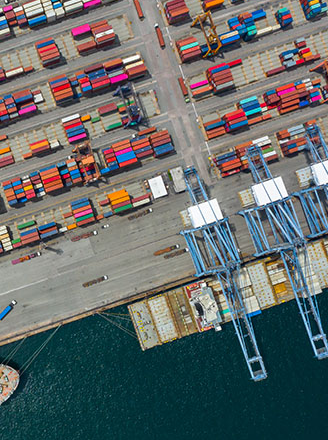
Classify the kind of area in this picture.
port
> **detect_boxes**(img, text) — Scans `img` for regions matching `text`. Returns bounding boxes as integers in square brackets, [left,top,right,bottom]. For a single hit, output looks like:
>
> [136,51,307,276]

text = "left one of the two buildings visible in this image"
[148,174,169,198]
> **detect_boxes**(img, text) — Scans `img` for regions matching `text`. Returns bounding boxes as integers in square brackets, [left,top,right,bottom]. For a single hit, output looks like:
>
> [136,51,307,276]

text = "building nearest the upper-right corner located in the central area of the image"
[169,165,187,193]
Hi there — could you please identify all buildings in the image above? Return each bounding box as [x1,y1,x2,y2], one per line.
[148,174,169,198]
[169,165,187,193]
